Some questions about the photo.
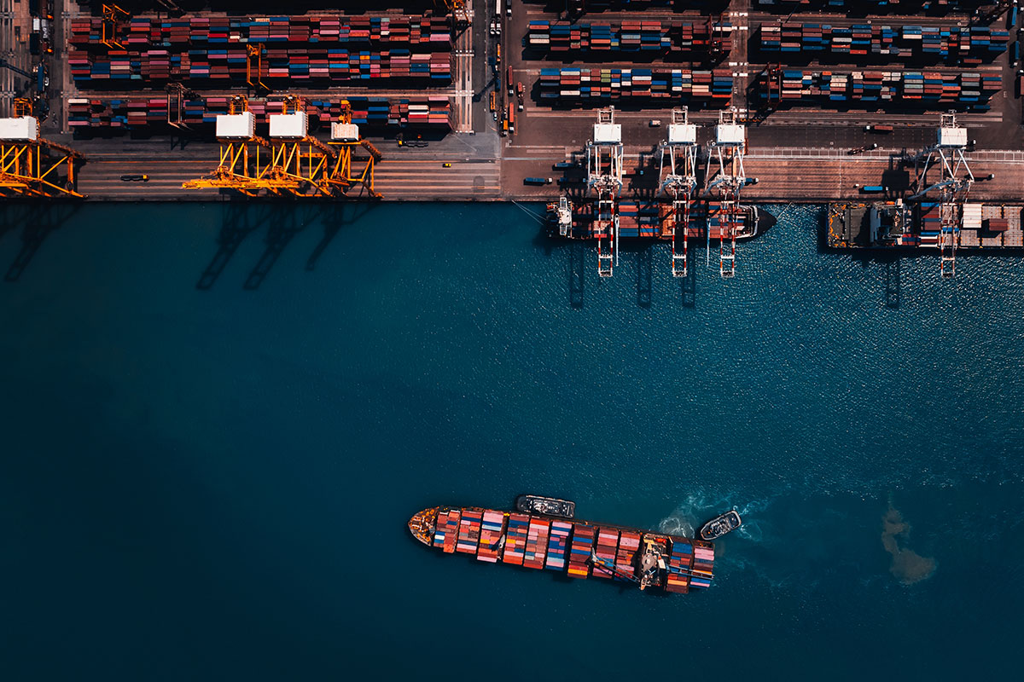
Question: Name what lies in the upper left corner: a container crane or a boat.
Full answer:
Visible in the upper left corner is a container crane.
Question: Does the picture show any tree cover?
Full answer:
No, there's no tree cover in this view.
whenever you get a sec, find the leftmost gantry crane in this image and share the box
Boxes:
[0,100,80,195]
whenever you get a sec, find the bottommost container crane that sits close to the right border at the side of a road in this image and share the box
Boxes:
[896,104,986,280]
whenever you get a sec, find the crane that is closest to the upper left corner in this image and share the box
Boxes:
[101,2,133,51]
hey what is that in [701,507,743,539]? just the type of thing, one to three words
boat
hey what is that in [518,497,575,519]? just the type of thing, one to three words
boat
